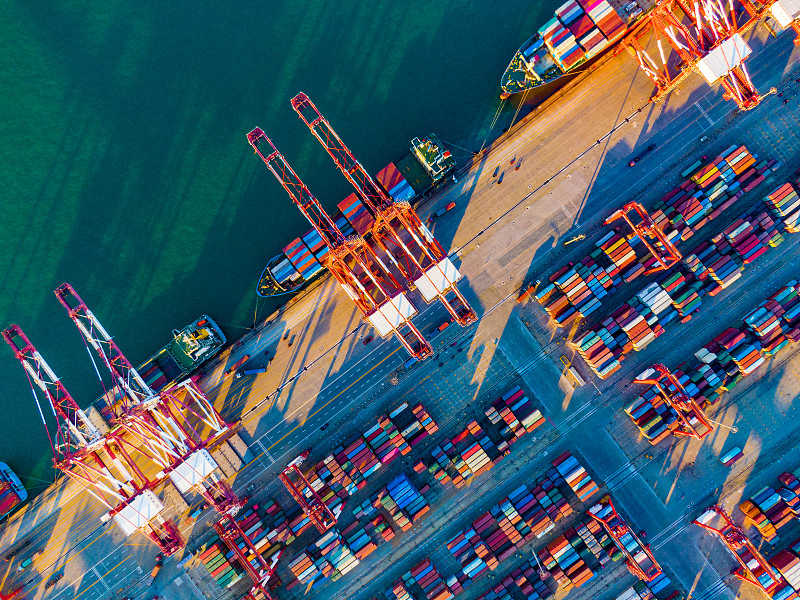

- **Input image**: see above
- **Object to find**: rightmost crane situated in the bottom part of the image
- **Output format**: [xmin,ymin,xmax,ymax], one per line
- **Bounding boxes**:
[689,500,786,595]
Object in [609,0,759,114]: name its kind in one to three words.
container crane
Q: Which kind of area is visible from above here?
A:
port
